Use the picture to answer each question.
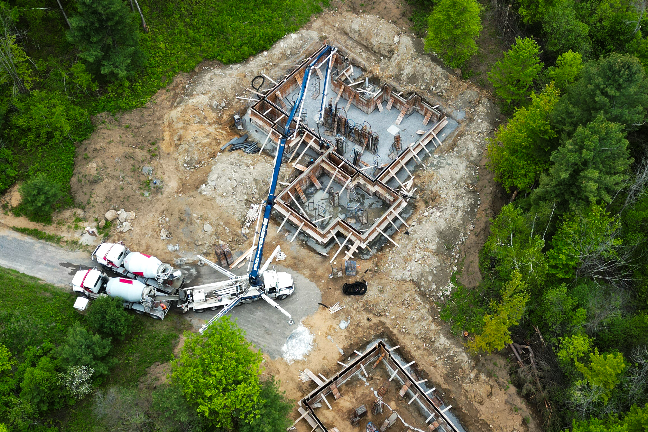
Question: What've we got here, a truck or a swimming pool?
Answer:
truck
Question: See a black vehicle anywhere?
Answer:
No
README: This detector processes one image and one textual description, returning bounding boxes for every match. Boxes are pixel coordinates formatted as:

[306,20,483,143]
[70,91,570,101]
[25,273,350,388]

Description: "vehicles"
[67,268,182,322]
[178,44,338,331]
[84,240,188,299]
